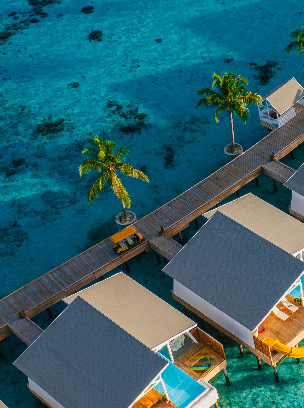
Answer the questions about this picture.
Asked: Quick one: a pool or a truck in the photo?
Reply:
pool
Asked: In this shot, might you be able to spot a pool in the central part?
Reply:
No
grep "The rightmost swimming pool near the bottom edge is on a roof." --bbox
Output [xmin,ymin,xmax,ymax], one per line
[154,353,207,407]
